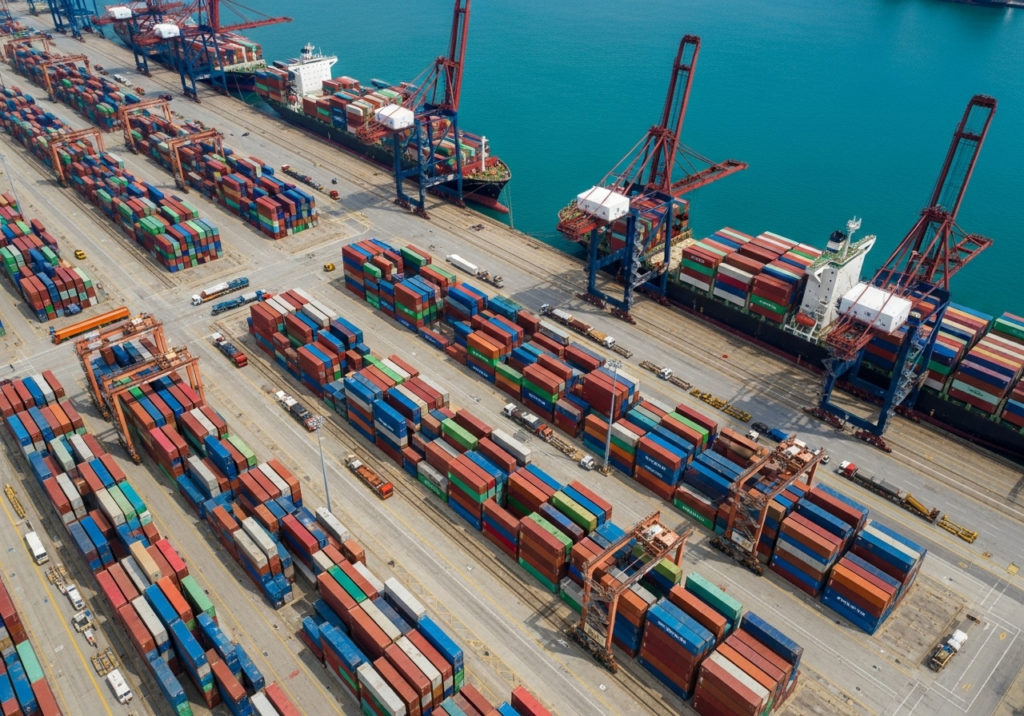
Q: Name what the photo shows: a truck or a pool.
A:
truck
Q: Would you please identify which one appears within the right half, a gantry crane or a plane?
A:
gantry crane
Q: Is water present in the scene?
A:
Yes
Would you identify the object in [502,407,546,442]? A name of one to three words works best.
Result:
truck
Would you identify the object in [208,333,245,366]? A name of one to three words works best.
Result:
truck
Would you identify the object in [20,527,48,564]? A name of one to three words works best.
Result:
bus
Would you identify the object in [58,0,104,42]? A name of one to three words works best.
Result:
container crane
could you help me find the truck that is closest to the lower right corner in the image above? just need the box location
[932,623,978,665]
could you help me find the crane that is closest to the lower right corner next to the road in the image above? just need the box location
[705,431,833,573]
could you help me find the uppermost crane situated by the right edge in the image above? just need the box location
[795,82,1010,452]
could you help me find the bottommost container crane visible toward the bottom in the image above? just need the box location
[559,503,700,670]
